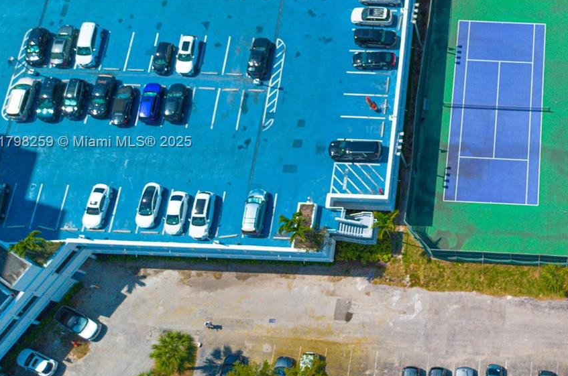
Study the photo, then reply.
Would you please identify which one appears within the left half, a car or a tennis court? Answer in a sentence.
You can see a car within the left half.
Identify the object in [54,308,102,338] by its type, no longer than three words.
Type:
car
